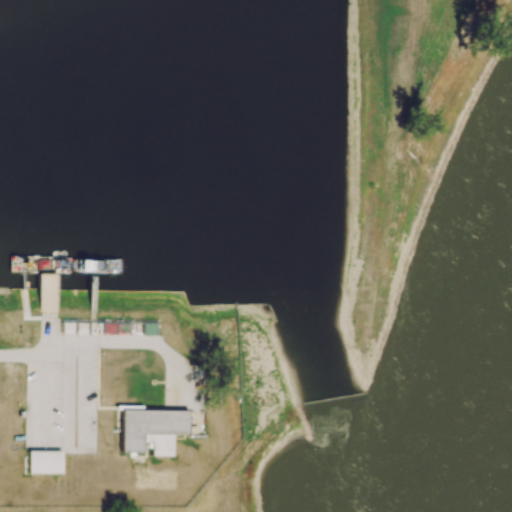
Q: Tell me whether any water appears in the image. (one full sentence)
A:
Yes, water shows up in the scene.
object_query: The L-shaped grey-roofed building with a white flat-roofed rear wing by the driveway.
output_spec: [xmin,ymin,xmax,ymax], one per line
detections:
[124,410,191,458]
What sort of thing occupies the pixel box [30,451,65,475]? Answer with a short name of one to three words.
shed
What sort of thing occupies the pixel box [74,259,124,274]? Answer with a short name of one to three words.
boat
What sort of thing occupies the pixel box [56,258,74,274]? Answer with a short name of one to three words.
boat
